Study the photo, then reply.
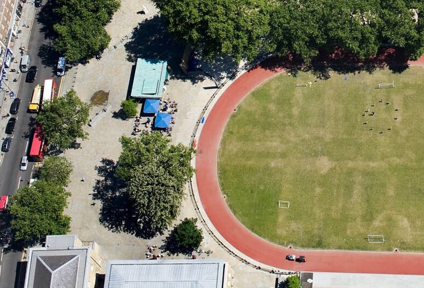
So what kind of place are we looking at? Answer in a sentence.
The area seen from above is a sports ground.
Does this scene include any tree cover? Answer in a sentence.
Yes, tree cover can be seen from above here.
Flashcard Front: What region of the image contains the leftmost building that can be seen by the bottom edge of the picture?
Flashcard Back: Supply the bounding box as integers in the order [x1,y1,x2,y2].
[24,235,100,288]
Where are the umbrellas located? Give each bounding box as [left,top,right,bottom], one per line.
[143,98,160,113]
[155,111,173,128]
